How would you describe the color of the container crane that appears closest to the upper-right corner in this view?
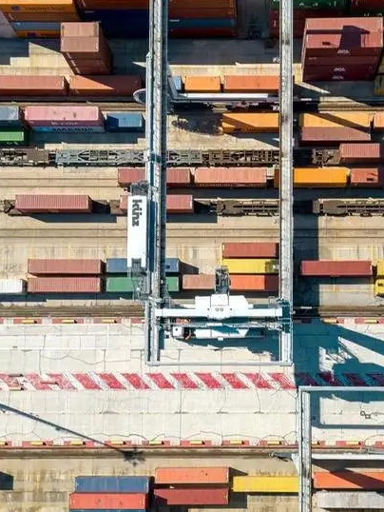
white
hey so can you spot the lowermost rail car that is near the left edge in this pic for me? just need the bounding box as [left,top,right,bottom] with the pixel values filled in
[2,199,109,214]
